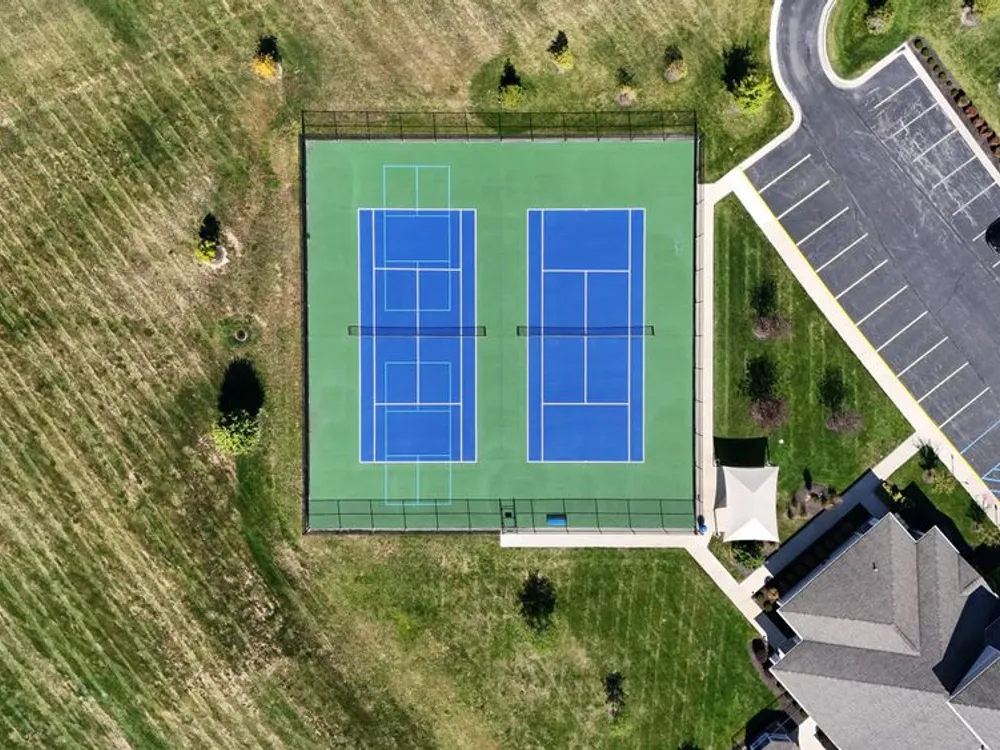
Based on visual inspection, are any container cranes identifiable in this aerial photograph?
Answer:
No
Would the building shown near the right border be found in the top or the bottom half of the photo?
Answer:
bottom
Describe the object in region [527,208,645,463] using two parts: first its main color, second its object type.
blue tennis court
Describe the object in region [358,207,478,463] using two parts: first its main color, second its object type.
blue tennis court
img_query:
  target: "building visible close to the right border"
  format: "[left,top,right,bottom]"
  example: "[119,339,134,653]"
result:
[765,512,1000,750]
